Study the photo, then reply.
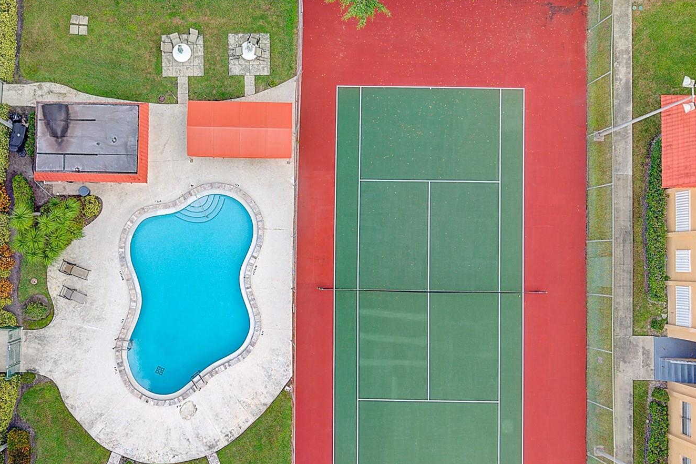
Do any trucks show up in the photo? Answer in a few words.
No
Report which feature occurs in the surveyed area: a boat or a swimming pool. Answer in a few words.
swimming pool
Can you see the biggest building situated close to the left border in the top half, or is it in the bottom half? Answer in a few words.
top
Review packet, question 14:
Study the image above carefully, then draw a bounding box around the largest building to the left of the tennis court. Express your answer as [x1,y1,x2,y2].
[34,101,148,182]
